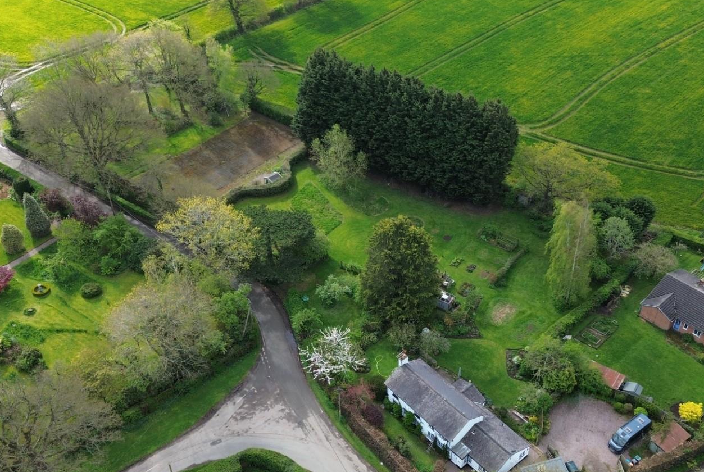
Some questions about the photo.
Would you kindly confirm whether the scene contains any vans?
Yes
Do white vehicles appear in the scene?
No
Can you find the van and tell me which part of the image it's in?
bottom right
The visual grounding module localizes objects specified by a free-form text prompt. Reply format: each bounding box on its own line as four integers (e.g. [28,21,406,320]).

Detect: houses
[384,352,529,472]
[640,271,704,348]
